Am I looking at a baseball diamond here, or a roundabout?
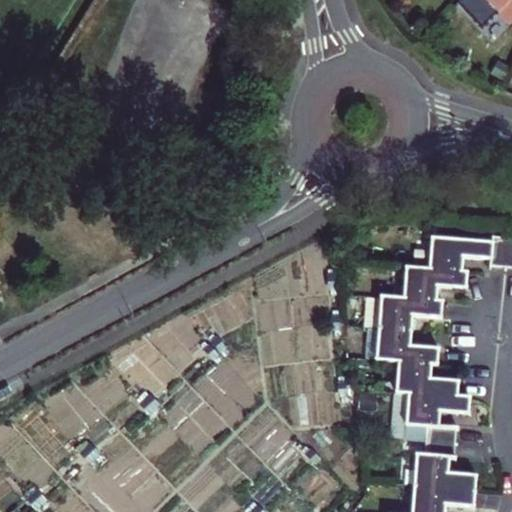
roundabout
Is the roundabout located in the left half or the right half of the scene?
right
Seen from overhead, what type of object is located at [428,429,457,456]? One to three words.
building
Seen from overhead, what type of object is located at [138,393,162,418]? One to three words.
shed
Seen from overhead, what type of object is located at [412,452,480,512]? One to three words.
building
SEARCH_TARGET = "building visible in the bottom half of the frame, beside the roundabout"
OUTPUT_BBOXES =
[376,236,496,428]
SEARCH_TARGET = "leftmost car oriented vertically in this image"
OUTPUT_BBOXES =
[470,276,484,300]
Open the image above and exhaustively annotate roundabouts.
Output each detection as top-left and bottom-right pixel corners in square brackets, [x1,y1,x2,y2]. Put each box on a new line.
[291,50,428,190]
